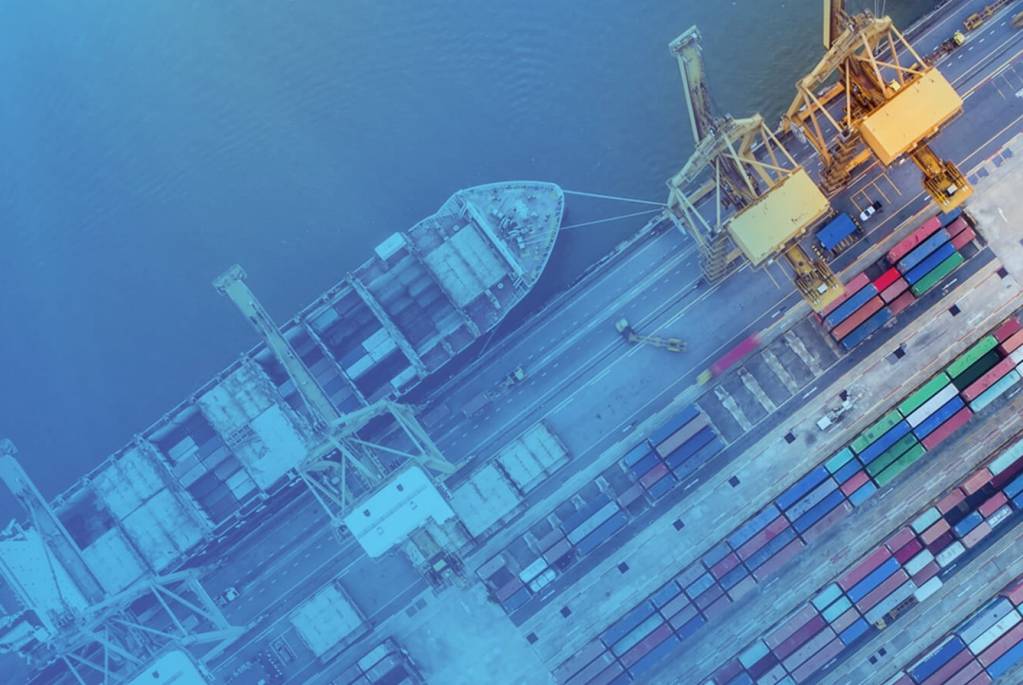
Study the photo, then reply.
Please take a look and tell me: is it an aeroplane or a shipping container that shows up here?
shipping container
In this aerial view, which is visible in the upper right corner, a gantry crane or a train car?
gantry crane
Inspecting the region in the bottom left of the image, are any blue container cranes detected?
Yes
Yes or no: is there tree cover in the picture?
No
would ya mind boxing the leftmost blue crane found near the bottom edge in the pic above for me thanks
[0,432,270,685]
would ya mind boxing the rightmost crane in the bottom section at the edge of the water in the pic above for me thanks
[212,260,474,589]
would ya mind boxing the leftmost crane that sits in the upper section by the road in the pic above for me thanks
[656,26,846,315]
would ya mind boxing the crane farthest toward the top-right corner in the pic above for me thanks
[767,0,978,215]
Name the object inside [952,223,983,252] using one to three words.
shipping container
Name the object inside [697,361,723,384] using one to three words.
truck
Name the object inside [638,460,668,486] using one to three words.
shipping container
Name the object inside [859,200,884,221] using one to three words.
vehicle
